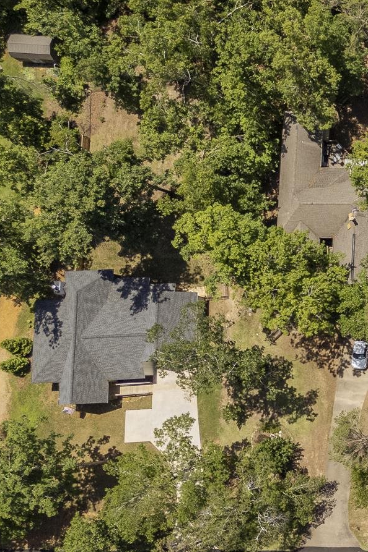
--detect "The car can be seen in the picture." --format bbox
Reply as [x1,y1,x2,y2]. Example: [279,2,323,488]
[352,340,367,372]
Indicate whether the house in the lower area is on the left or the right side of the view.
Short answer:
left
